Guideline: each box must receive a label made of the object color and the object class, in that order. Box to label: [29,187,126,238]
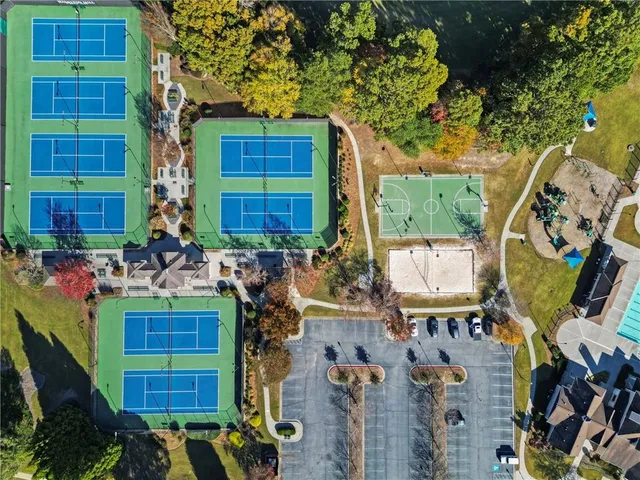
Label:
blue tennis court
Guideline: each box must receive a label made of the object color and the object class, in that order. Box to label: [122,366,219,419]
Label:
blue tennis court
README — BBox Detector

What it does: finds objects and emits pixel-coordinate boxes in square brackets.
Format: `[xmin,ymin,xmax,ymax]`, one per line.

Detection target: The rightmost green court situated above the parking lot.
[379,176,484,238]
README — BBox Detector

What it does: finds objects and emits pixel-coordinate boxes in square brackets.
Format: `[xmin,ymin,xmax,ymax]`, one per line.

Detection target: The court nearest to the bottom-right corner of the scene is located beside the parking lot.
[388,249,474,293]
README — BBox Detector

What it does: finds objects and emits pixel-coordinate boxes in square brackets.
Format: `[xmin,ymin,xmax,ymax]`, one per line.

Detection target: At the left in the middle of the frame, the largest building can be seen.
[126,252,212,290]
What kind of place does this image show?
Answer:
sports ground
